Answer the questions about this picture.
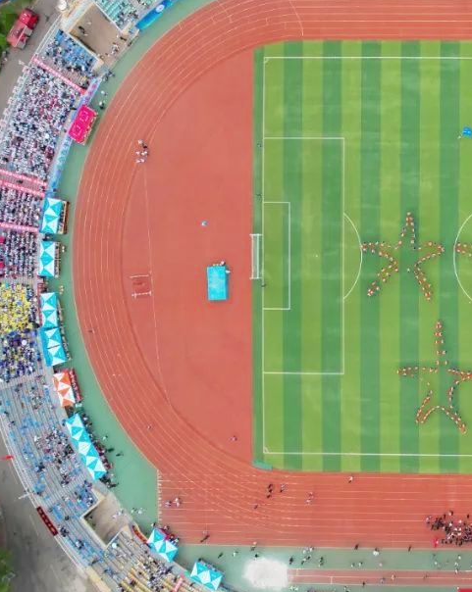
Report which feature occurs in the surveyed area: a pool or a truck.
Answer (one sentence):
Of the two, only a truck appears.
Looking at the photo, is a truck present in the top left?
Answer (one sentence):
Yes, I can see a truck in the top left.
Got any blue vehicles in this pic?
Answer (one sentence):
No, there is no blue vehicle in the image.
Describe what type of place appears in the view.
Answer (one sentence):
It's a sports ground.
